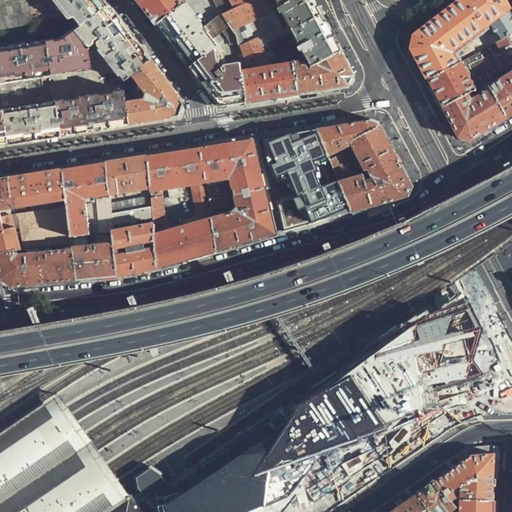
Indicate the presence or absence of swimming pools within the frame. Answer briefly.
No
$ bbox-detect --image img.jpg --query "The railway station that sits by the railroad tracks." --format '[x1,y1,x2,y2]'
[0,394,129,512]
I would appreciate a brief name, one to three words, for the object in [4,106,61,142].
house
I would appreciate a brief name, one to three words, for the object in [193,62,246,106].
house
